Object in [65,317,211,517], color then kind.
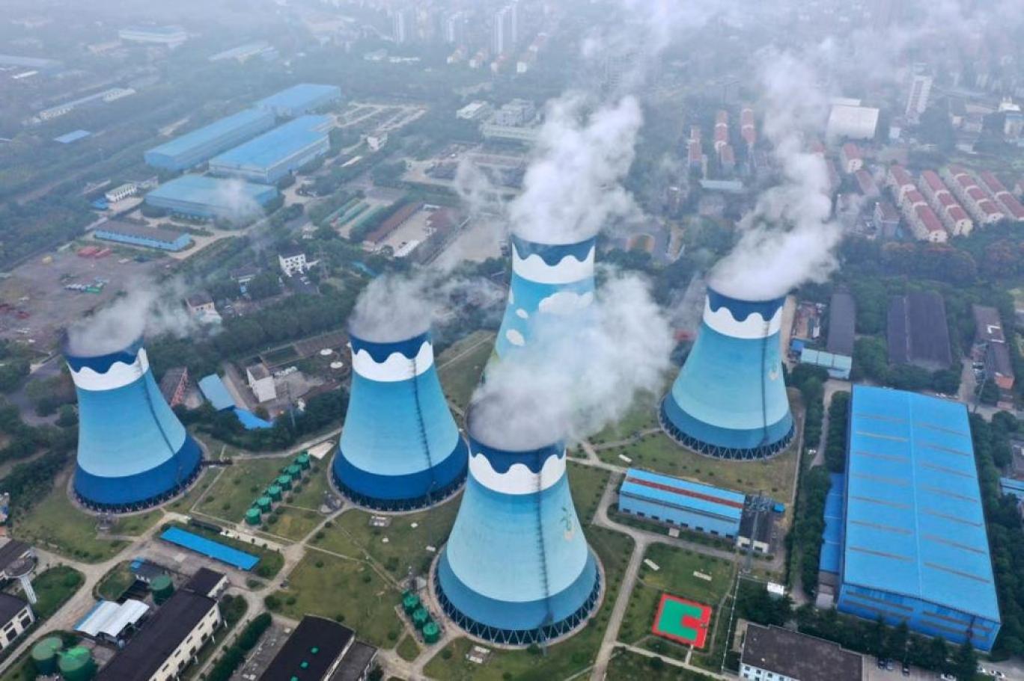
blue cooling tower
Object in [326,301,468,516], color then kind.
blue cooling tower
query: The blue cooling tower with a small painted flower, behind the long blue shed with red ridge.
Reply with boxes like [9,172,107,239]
[656,265,799,463]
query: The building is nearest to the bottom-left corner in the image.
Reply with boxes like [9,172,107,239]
[0,599,30,647]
